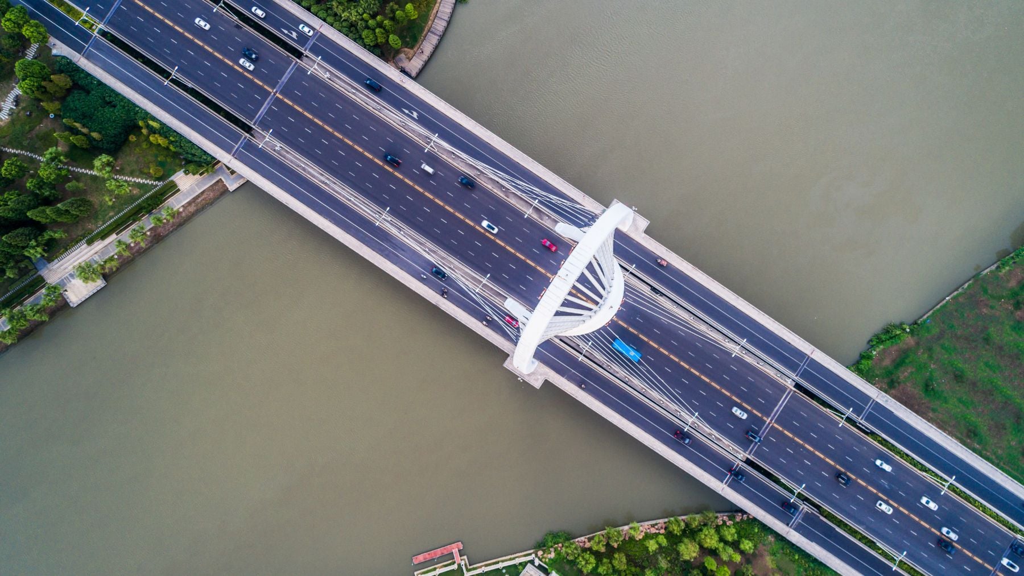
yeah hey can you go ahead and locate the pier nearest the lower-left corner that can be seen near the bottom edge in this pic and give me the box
[411,541,463,568]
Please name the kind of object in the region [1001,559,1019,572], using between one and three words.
vehicle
